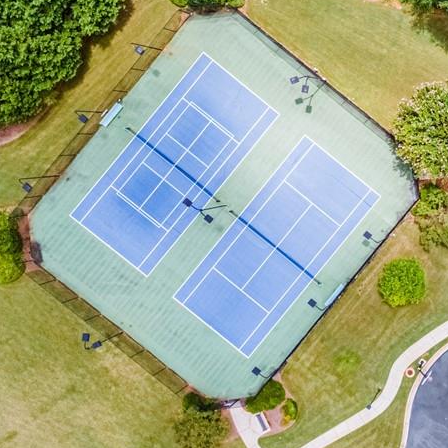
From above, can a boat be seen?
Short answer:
No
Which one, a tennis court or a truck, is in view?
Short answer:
tennis court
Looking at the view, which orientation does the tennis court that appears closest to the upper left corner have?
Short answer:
at an angle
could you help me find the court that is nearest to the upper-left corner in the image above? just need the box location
[70,51,280,278]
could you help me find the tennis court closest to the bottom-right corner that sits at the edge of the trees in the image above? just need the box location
[174,135,381,359]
